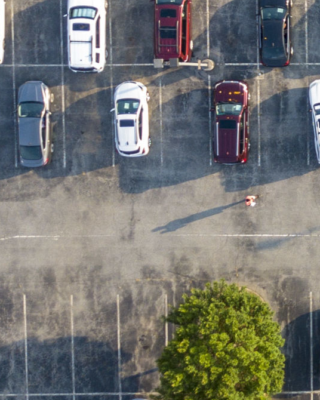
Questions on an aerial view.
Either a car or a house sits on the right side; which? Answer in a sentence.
It is a car that can be seen on the right side.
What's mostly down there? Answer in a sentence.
What you mostly see from above here is paved ground.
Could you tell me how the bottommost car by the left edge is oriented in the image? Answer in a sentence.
The bottommost car by the left edge runs vertically in the image.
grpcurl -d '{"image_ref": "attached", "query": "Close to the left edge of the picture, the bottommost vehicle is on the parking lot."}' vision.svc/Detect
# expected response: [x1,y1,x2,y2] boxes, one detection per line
[11,81,57,167]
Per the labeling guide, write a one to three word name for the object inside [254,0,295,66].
car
